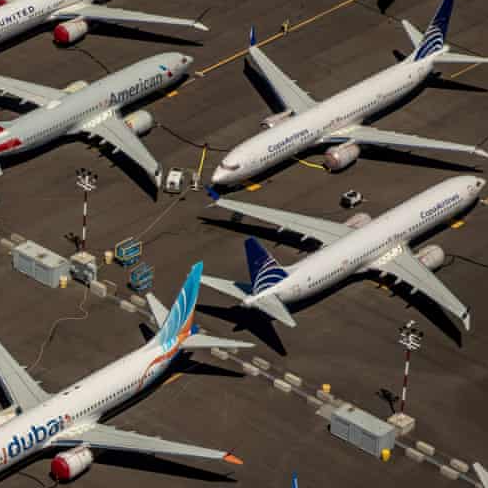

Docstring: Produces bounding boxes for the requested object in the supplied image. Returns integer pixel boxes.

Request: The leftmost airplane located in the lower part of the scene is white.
[0,261,256,485]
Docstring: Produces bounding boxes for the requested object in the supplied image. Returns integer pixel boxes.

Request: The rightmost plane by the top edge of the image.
[210,0,488,194]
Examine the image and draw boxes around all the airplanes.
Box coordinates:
[0,0,212,46]
[0,261,256,485]
[210,0,488,194]
[0,50,197,187]
[188,173,486,332]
